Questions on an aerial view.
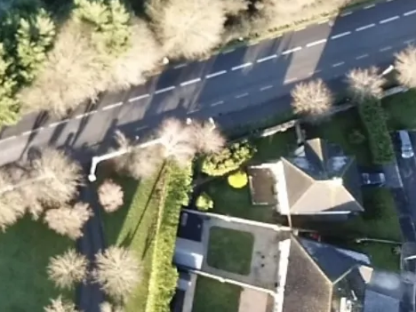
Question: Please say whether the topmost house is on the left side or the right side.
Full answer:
The topmost house sits on the right side.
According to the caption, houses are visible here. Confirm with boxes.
[275,238,376,312]
[271,141,364,218]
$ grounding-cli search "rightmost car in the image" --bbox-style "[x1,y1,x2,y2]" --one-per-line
[397,128,416,160]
